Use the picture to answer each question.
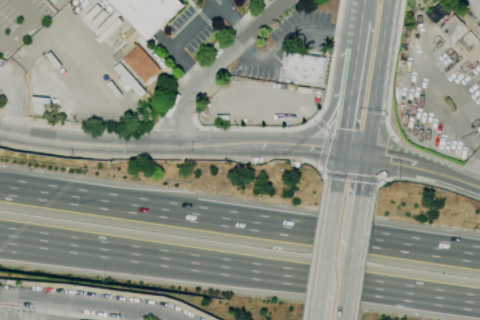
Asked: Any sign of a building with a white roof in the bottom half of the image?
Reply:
No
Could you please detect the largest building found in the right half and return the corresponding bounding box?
[282,53,327,86]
